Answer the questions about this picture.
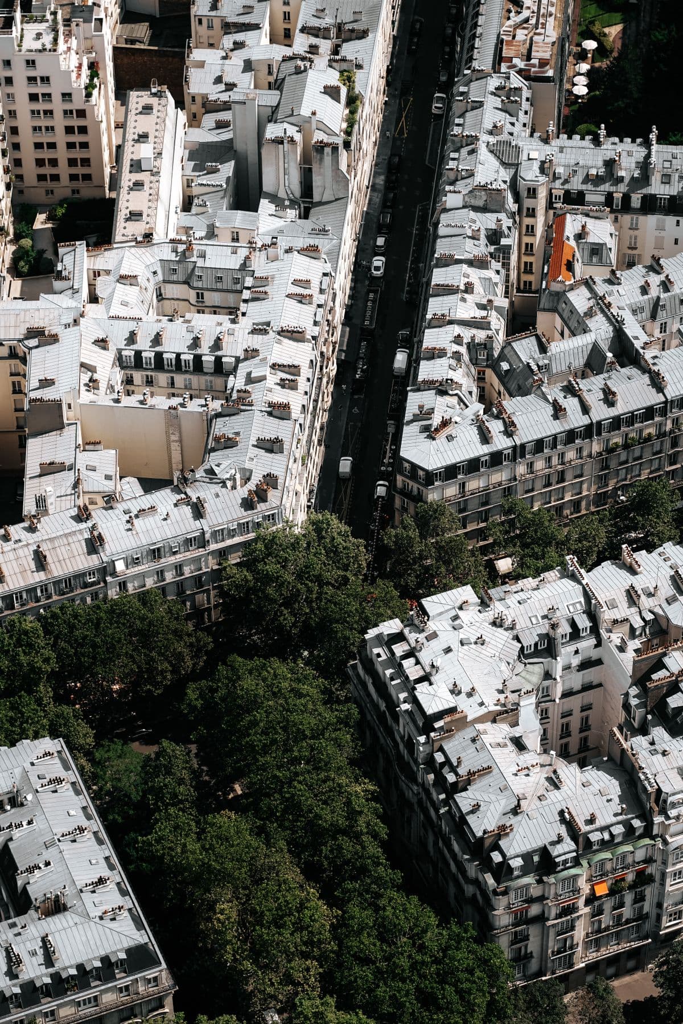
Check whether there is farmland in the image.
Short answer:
No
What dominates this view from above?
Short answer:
buildings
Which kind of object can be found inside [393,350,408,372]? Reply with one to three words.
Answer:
vehicle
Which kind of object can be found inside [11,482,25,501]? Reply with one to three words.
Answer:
car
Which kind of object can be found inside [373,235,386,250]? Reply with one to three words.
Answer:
vehicle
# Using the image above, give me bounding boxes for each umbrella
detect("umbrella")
[572,88,587,96]
[582,42,596,50]
[575,66,590,73]
[573,78,588,88]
